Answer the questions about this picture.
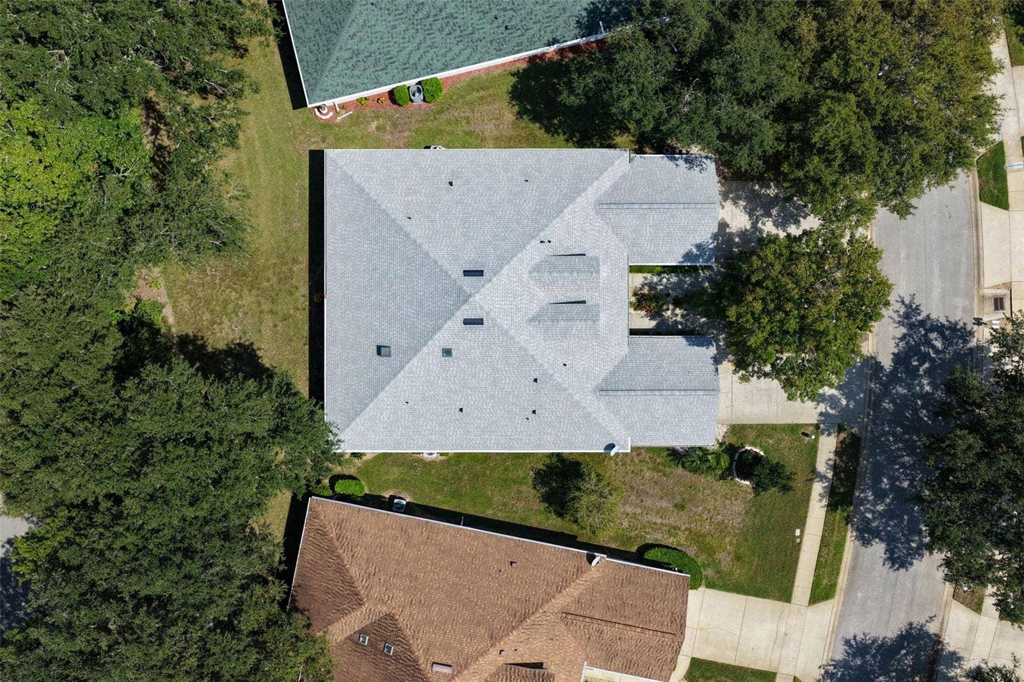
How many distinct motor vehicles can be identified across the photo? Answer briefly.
zero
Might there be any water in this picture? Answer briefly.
No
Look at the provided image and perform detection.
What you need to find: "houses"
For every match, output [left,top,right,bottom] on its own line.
[277,496,691,682]
[281,0,686,109]
[324,147,722,455]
